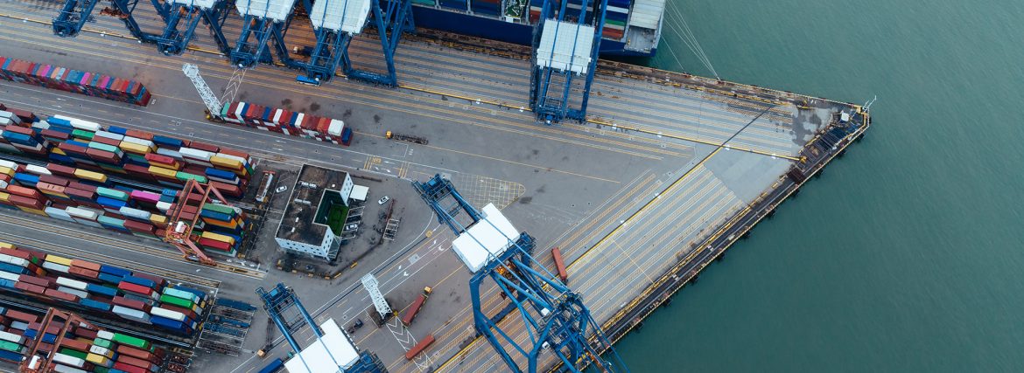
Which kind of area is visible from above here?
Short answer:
port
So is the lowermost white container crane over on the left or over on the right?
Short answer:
left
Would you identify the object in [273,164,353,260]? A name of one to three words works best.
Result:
building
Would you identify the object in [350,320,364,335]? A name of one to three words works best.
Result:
vehicle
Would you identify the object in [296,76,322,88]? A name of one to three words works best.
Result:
vehicle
